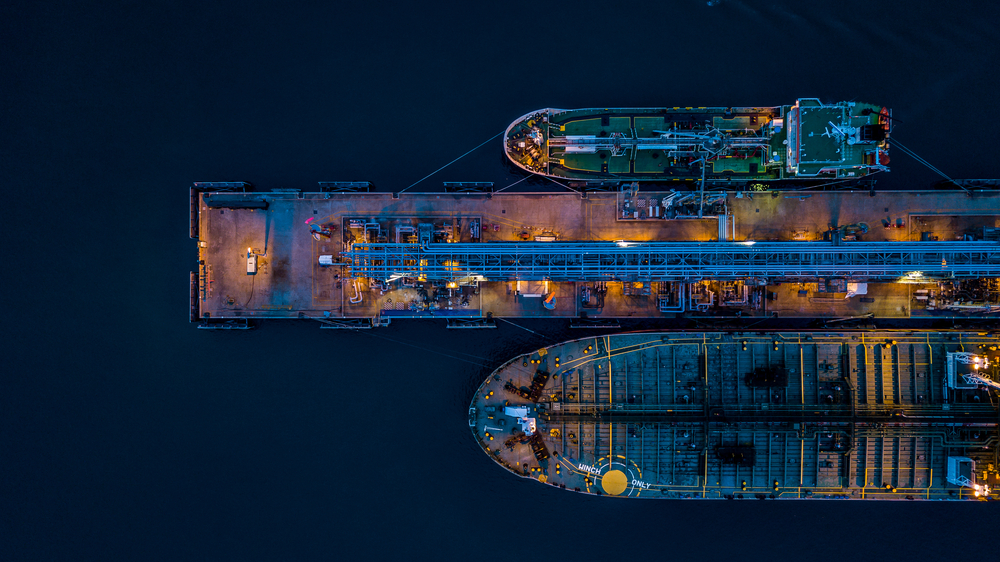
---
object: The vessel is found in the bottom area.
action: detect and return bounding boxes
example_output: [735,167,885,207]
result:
[470,329,1000,501]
